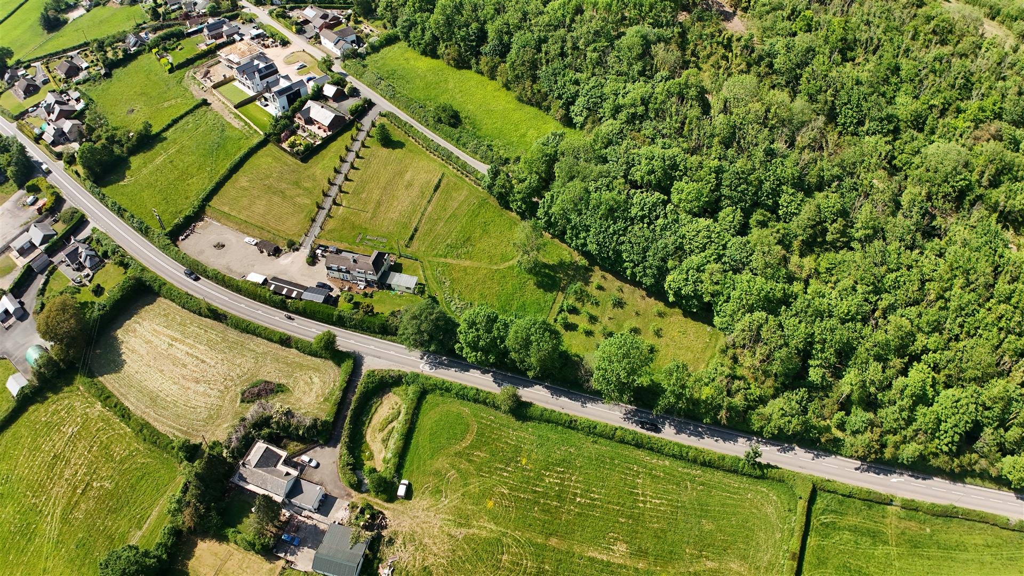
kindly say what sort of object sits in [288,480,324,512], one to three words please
building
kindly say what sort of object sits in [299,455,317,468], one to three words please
vehicle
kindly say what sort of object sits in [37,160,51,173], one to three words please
vehicle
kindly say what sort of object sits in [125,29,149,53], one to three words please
house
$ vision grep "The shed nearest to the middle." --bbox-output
[390,271,419,294]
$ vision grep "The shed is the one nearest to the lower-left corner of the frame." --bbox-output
[5,373,28,400]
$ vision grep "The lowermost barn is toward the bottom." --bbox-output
[311,524,371,576]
